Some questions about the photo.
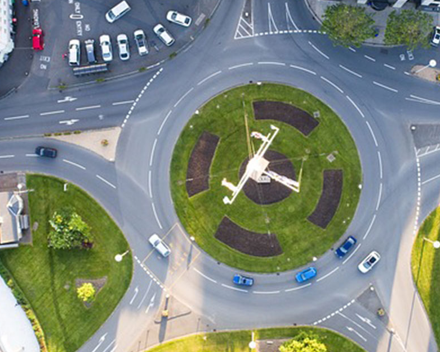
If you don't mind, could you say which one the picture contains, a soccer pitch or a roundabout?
roundabout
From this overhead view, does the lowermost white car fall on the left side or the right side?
right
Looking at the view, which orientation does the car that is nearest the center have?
on a diagonal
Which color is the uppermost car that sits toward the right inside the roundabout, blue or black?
blue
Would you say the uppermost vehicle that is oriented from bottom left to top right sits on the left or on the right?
left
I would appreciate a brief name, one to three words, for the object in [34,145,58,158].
vehicle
